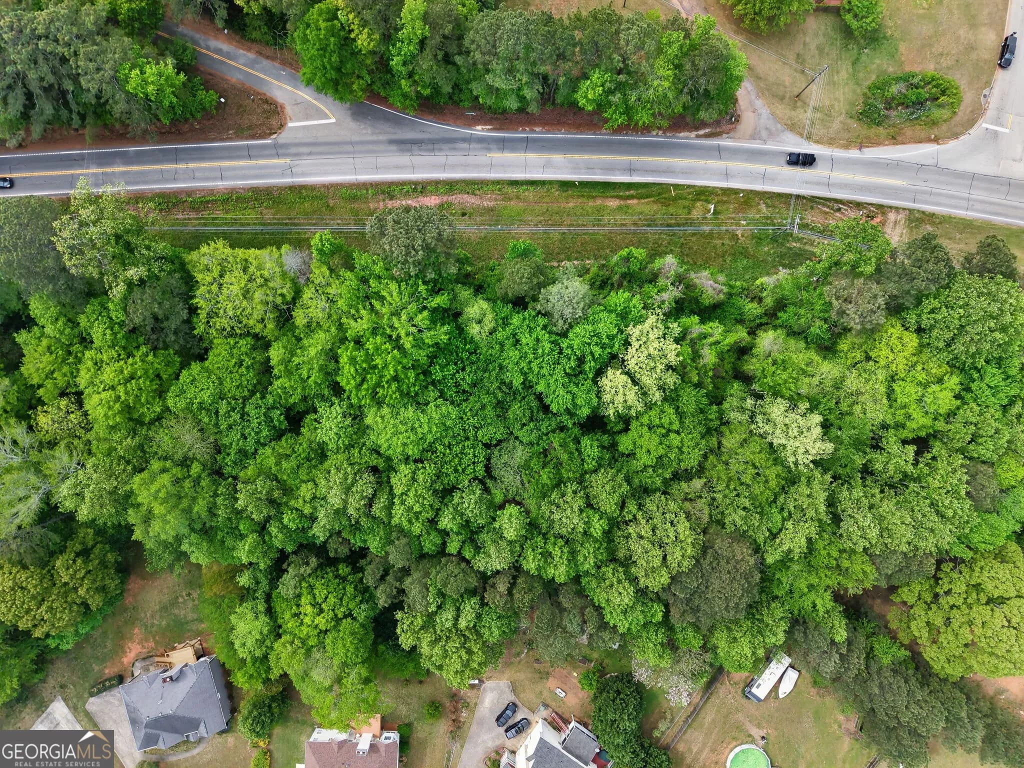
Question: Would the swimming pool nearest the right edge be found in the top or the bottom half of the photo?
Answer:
bottom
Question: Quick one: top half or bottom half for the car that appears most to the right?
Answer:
top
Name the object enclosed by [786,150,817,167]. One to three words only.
car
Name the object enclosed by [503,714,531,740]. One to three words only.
car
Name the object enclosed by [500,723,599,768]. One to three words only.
house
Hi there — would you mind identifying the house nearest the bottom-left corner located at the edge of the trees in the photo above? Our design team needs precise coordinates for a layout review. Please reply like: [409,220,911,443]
[119,656,231,751]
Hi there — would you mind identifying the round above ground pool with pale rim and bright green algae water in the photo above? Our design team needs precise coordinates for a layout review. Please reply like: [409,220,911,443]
[727,744,771,768]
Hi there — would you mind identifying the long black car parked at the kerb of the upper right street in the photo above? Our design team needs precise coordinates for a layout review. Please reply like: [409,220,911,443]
[996,32,1019,66]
